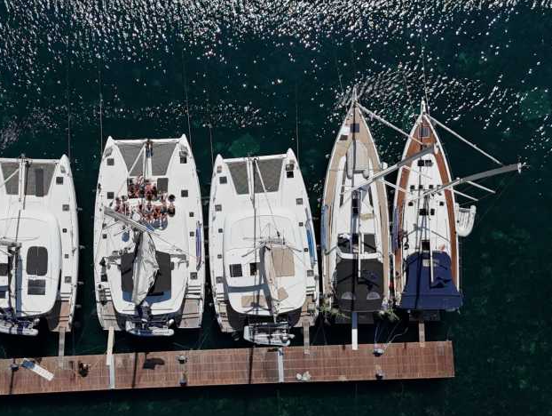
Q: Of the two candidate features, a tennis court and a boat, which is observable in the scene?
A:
boat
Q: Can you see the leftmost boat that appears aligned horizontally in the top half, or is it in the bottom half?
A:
bottom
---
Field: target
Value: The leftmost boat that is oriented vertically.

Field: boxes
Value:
[0,150,79,330]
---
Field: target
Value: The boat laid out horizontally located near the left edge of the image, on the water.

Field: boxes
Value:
[0,316,46,341]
